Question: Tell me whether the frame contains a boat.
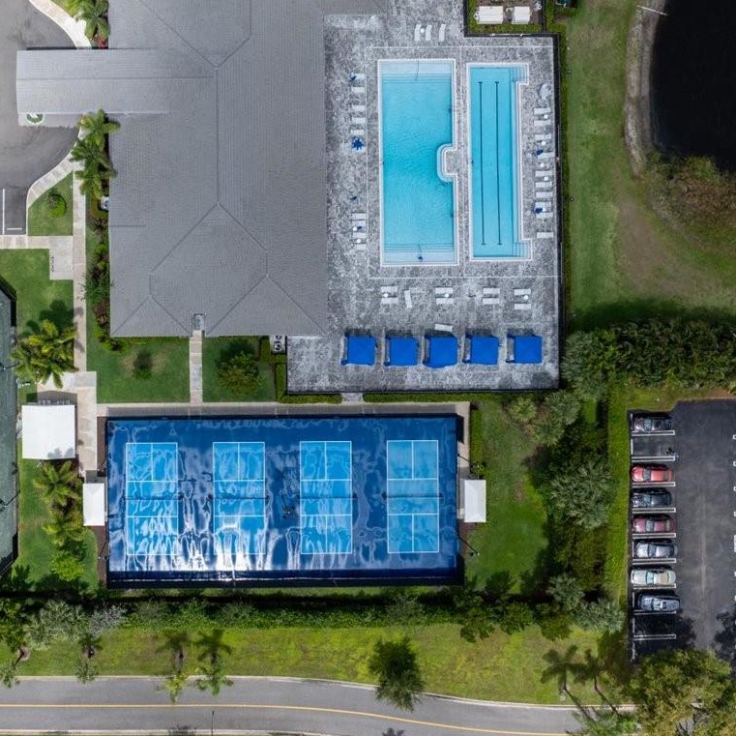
No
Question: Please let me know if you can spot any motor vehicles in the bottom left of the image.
No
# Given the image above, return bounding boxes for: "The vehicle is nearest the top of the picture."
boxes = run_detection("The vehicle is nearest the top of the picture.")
[626,415,675,434]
